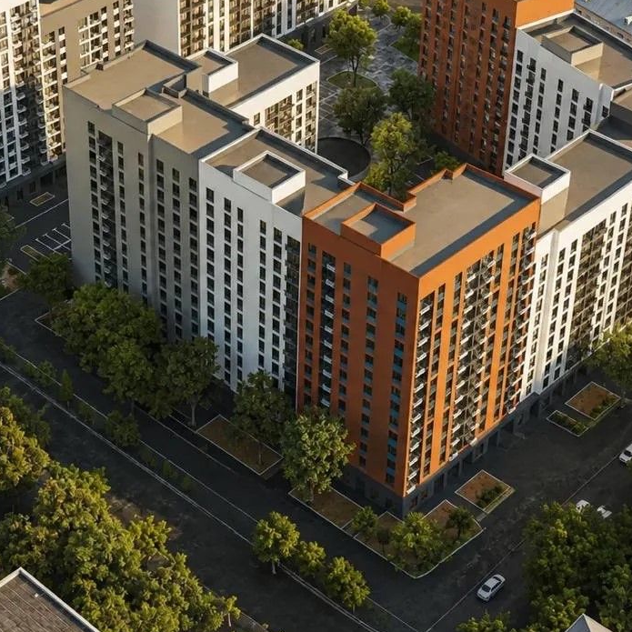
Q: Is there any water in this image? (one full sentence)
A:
No, there is no water in the image.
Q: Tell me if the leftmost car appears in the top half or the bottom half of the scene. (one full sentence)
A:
You can find the leftmost car in the bottom half.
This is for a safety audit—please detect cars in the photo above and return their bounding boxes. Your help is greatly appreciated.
[591,501,614,516]
[618,442,632,464]
[477,574,502,597]
[569,496,594,515]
